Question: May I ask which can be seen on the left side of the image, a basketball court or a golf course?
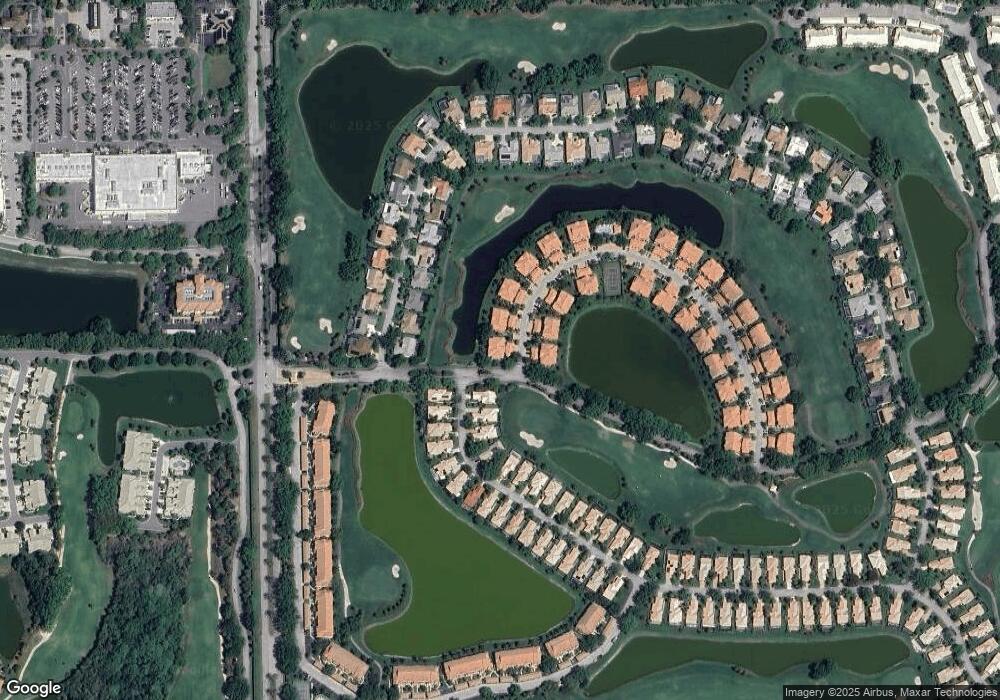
golf course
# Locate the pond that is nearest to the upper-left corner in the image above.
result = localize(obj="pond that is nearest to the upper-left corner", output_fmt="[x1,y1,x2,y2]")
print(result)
[0,266,139,336]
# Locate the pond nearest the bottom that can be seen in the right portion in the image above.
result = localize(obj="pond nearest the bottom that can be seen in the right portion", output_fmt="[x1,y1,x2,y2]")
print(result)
[590,635,909,695]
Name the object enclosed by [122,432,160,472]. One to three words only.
house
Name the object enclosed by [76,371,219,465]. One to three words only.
pond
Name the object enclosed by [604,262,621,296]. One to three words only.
tennis court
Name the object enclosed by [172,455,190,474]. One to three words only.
swimming pool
